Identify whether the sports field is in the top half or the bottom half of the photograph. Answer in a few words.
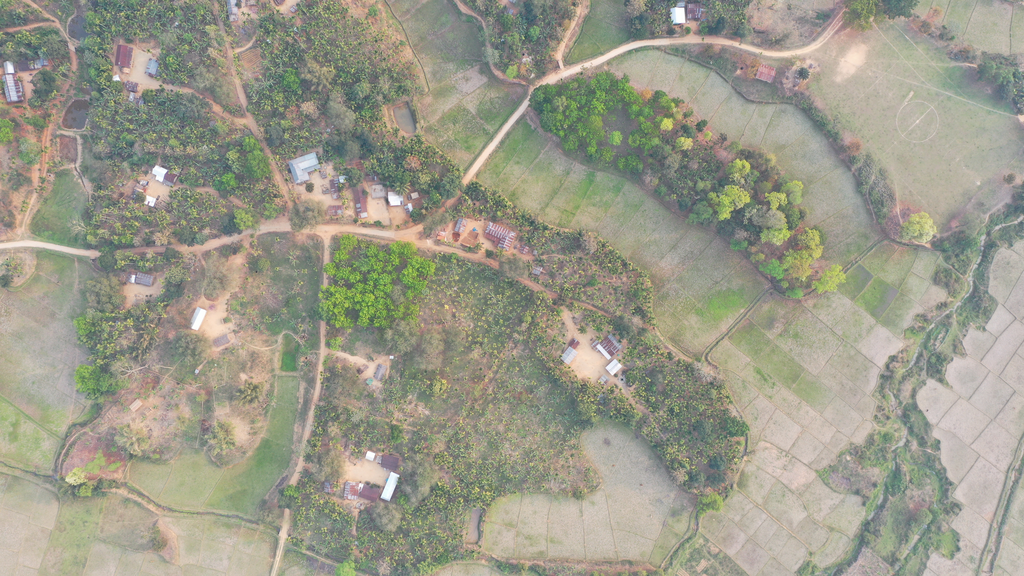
top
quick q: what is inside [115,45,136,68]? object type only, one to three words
house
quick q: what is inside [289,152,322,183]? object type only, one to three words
house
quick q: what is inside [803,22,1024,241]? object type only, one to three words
sports field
